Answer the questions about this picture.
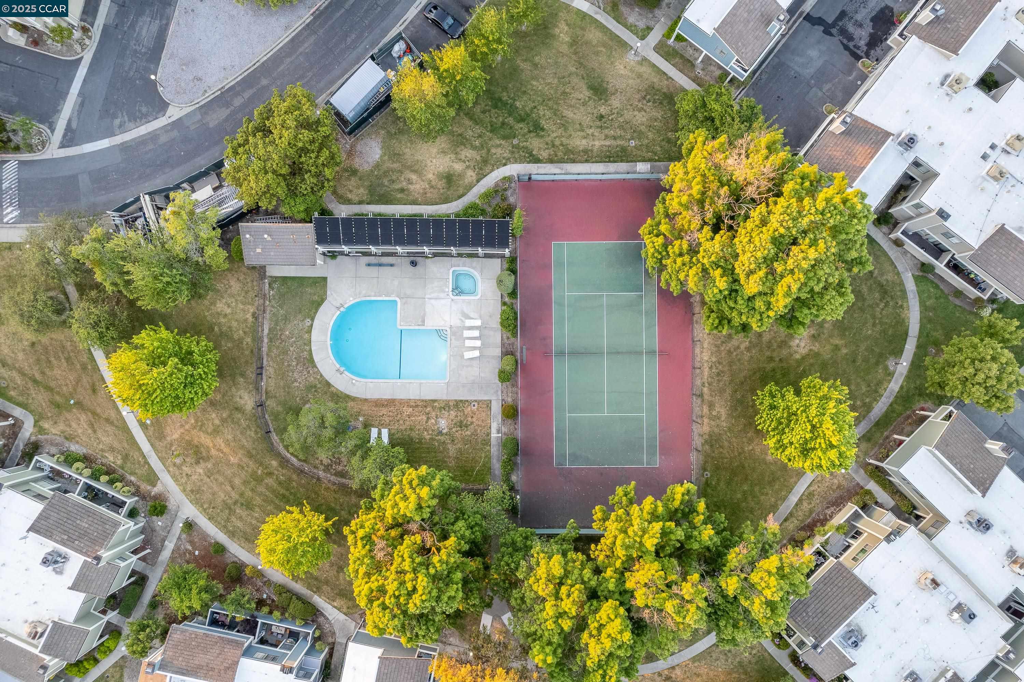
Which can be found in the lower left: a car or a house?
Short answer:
house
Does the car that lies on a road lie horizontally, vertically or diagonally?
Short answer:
diagonally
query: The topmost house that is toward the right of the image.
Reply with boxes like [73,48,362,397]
[671,0,807,93]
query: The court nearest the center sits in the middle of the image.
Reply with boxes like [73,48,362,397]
[518,179,693,529]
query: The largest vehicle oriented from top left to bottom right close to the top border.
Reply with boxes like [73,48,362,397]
[421,1,466,40]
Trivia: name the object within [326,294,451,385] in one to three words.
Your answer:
swimming pool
